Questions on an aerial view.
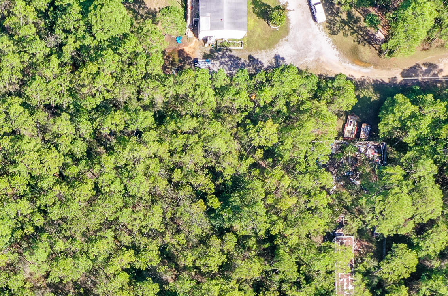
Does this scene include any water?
No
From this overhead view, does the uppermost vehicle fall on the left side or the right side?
right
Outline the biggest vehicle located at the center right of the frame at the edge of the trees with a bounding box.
[339,113,358,143]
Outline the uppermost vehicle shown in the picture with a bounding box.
[307,0,328,24]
